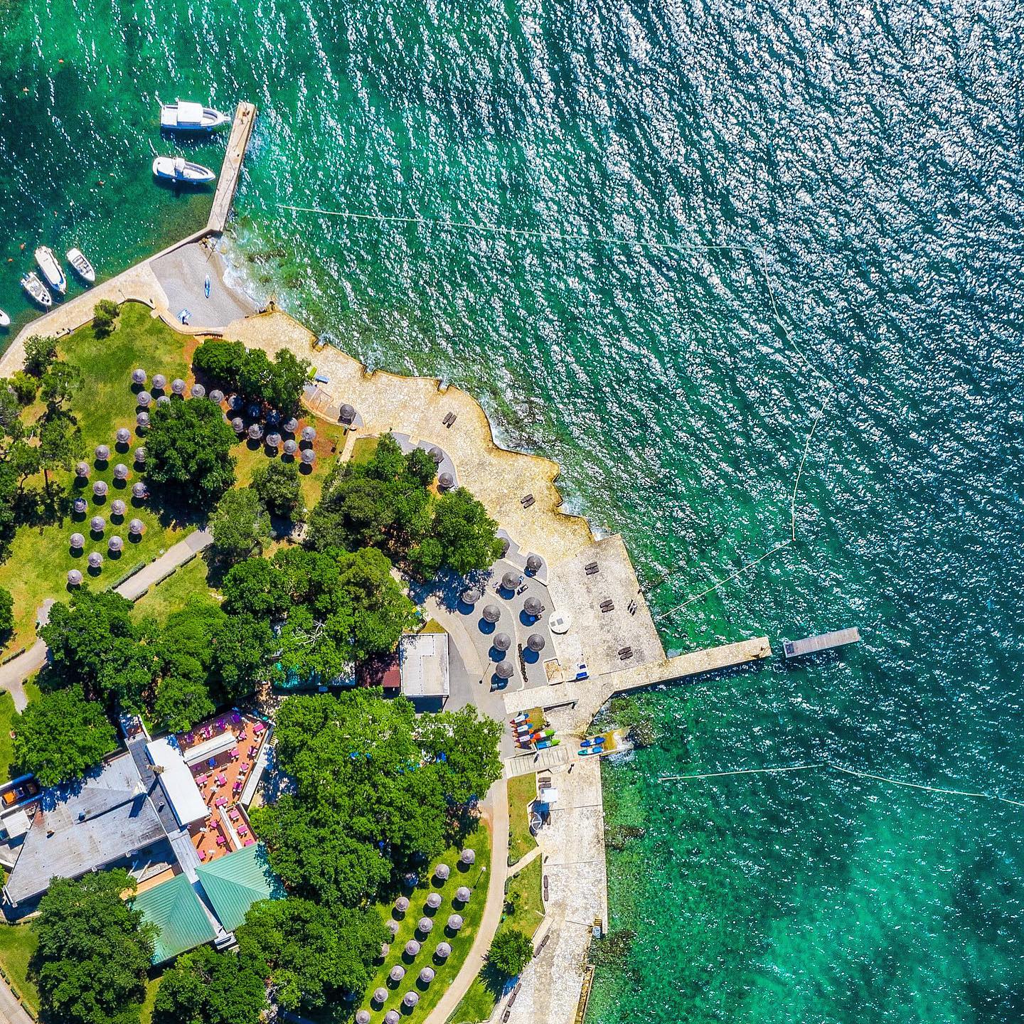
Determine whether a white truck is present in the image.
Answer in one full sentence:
No, no white truck is visible in the scene.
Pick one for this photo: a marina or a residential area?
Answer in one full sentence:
What you see here is a marina.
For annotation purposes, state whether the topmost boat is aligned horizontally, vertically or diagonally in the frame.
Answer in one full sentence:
From this overhead view, the topmost boat appears to run horizontally.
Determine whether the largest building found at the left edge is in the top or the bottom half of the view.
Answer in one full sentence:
The bottom half of the photo is where the largest building found at the left edge is.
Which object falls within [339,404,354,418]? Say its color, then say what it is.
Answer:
gray umbrella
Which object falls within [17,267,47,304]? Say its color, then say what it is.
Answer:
white boat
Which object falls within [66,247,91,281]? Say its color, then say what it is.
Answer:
white boat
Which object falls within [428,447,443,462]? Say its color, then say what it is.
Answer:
gray umbrella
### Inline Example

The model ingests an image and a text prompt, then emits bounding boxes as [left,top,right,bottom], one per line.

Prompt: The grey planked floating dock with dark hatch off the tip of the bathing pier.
[783,627,859,657]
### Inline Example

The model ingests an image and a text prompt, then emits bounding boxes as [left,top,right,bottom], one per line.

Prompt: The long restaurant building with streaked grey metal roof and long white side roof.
[5,733,211,909]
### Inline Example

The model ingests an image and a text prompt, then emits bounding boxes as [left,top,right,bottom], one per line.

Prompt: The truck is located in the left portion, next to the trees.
[2,782,45,808]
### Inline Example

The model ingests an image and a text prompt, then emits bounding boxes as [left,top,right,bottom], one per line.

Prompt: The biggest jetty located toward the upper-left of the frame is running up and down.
[208,102,258,234]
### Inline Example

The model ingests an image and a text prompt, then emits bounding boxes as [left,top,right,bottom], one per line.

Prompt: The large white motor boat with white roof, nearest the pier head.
[164,103,230,128]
